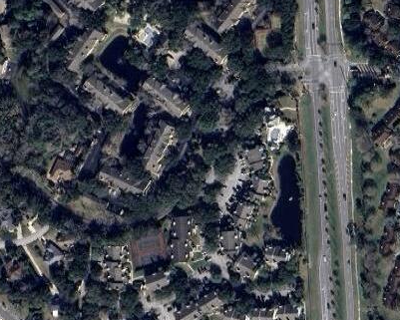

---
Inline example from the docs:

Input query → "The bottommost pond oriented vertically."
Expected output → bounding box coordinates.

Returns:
[272,152,302,248]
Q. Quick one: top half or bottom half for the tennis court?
bottom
